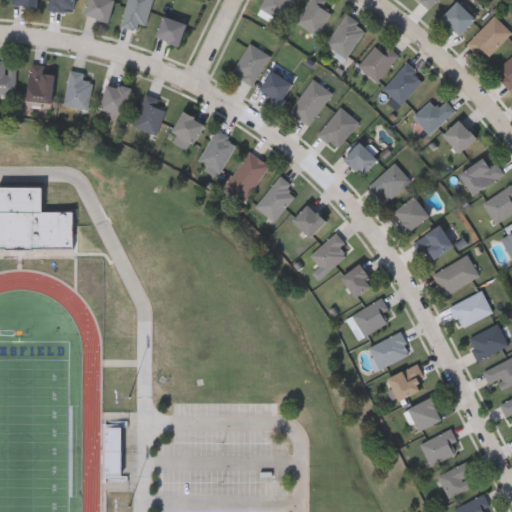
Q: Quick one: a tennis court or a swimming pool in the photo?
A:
swimming pool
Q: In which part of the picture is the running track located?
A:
bottom left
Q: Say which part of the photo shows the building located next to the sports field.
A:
left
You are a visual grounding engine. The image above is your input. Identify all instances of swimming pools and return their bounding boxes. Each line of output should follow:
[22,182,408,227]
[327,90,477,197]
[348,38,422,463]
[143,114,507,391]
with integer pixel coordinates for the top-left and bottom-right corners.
[426,190,446,217]
[378,93,388,103]
[448,176,459,186]
[490,240,510,268]
[358,350,374,375]
[376,129,396,149]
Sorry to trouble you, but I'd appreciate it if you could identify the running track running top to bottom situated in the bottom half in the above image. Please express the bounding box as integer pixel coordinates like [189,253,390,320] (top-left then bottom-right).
[0,270,102,512]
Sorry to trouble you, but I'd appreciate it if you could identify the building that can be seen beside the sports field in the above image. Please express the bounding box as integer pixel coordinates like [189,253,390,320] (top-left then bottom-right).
[0,187,75,250]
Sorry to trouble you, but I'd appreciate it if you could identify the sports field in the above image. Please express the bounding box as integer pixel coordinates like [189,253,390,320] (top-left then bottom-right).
[0,290,82,512]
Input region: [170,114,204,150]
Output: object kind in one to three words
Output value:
house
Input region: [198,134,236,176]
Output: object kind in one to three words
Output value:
house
